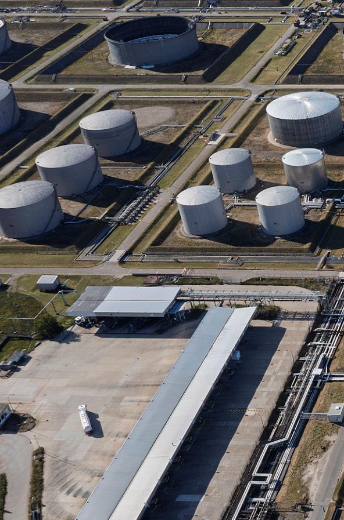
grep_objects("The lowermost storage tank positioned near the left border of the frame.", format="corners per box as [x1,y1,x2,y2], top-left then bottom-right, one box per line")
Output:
[0,181,67,241]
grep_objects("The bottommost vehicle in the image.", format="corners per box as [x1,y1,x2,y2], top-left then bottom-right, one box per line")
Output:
[74,399,96,433]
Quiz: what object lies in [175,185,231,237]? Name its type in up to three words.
storage tank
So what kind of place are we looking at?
industrial area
